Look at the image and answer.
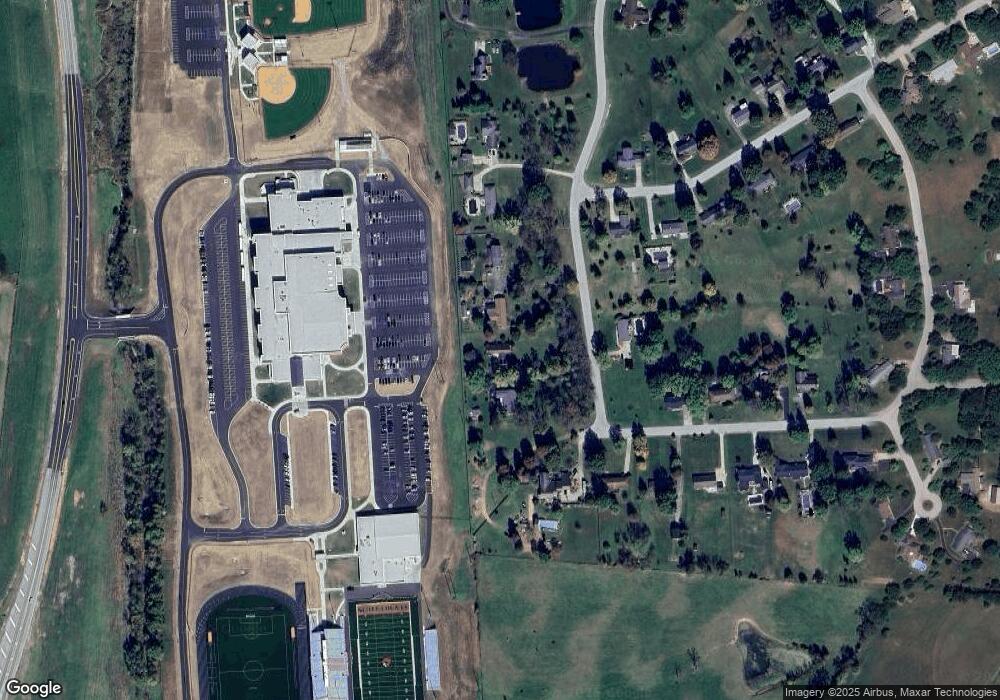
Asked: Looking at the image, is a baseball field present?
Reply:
Yes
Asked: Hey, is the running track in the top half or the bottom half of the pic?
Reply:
bottom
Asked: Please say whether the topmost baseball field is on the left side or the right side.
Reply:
left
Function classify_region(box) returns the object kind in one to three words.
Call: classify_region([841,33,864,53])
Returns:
house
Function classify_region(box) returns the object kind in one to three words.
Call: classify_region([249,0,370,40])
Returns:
baseball field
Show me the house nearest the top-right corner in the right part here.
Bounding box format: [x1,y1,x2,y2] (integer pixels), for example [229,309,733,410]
[959,40,984,68]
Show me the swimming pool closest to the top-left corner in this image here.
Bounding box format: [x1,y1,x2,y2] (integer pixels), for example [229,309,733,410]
[455,121,468,142]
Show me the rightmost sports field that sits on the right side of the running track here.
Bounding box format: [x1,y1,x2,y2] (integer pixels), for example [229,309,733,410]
[344,583,427,700]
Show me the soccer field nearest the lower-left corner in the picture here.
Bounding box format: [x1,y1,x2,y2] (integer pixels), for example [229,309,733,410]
[211,595,296,700]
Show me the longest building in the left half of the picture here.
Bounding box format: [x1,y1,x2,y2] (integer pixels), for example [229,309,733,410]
[252,189,354,388]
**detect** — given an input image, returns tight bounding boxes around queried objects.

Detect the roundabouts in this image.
[914,491,942,519]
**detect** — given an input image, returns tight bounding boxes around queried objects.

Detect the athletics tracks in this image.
[196,582,312,700]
